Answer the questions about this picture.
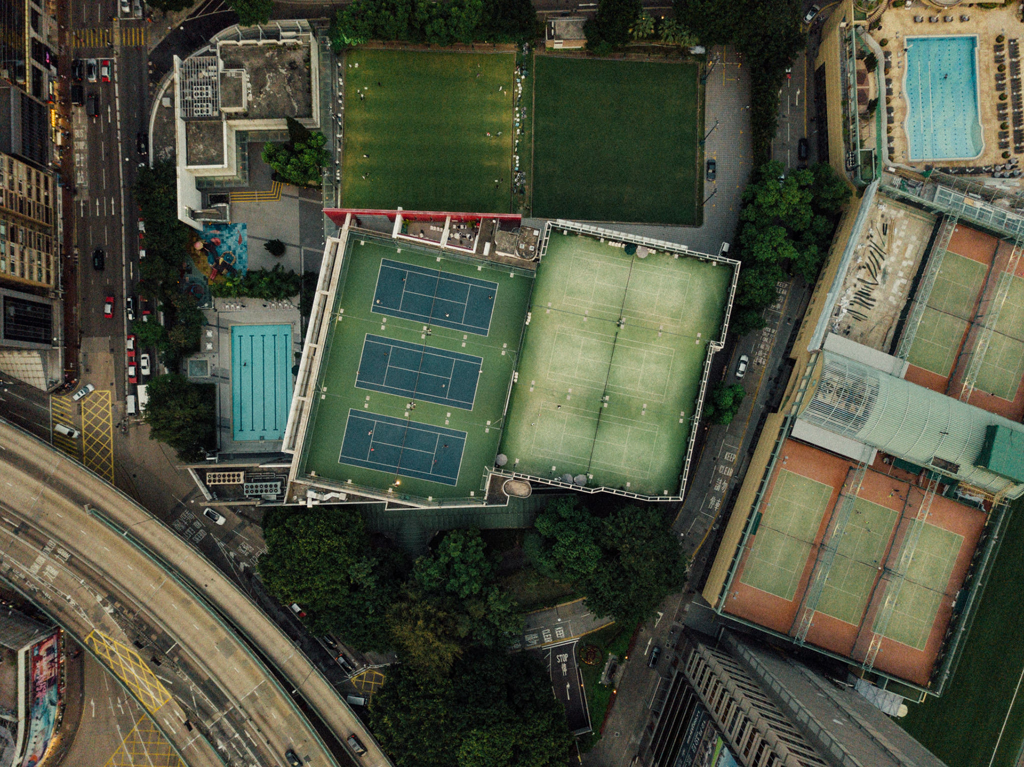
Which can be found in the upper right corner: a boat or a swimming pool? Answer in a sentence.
It is a swimming pool that can be seen in the upper right corner.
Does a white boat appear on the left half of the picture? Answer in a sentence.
No, there's no white boat to be seen on the left half of the picture.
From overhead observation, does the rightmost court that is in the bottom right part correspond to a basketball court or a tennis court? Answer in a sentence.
Specifically, the rightmost court that is in the bottom right part is a tennis court.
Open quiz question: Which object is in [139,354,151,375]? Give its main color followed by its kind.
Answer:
white vehicle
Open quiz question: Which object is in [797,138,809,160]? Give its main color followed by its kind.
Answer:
black vehicle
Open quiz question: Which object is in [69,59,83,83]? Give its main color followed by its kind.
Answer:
black vehicle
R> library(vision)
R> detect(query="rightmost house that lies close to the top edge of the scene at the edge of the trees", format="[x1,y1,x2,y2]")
[545,16,587,55]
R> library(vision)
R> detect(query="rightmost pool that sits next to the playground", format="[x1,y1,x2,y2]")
[229,321,295,443]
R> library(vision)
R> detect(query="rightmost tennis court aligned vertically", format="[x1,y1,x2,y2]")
[961,271,1024,401]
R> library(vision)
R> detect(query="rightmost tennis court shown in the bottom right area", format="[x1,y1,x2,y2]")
[871,518,964,651]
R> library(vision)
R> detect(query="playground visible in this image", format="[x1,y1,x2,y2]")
[183,223,247,307]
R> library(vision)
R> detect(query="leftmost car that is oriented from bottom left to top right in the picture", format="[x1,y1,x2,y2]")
[71,383,95,401]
